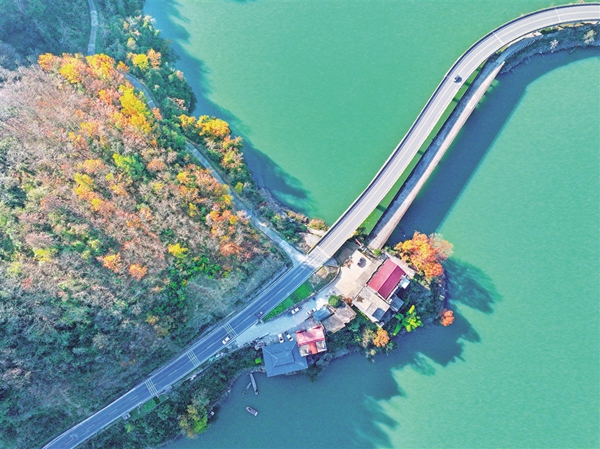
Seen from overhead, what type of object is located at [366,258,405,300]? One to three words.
house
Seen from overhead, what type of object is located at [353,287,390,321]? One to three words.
house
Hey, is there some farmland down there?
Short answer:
No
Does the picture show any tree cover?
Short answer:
Yes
